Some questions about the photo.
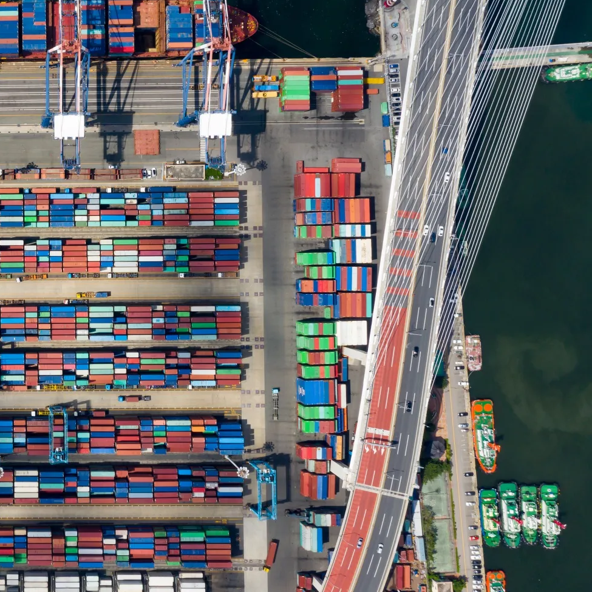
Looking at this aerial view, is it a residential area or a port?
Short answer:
port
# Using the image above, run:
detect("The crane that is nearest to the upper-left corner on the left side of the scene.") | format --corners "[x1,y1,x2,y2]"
[36,0,93,171]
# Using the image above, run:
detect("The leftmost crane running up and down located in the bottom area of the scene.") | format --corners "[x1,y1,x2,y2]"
[40,397,70,465]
